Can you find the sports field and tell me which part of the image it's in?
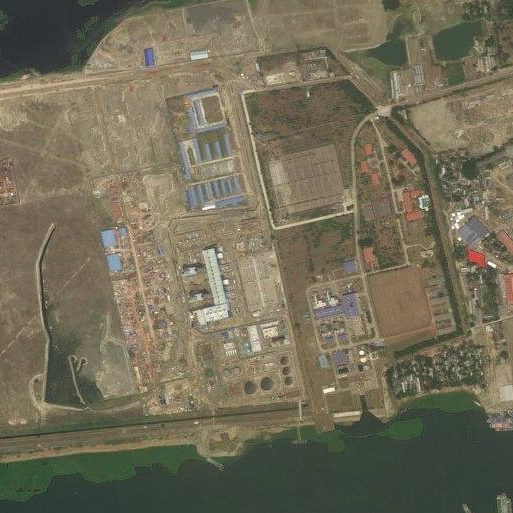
right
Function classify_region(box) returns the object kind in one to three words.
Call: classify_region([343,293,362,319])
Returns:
building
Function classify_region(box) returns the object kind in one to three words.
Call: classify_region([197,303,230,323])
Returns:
building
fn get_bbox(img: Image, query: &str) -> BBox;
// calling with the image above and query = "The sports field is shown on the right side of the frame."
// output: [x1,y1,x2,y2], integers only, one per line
[369,267,433,340]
